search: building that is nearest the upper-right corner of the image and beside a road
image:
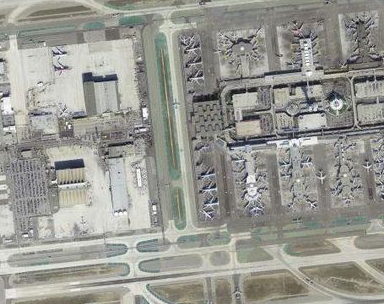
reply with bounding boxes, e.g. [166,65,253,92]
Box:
[325,22,383,75]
